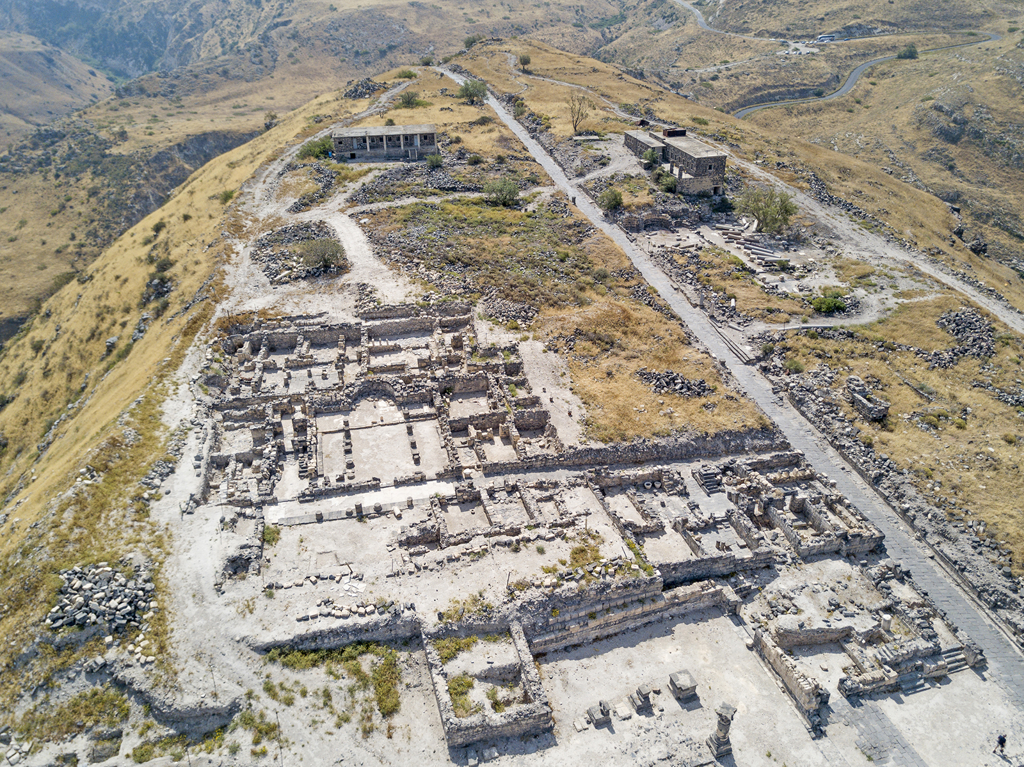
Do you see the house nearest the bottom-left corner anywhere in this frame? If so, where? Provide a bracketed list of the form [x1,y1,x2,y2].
[210,400,315,511]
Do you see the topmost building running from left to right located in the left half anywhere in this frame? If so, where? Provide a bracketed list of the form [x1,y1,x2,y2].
[332,124,438,161]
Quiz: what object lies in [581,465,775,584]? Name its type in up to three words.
house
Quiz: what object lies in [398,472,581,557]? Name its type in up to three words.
house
